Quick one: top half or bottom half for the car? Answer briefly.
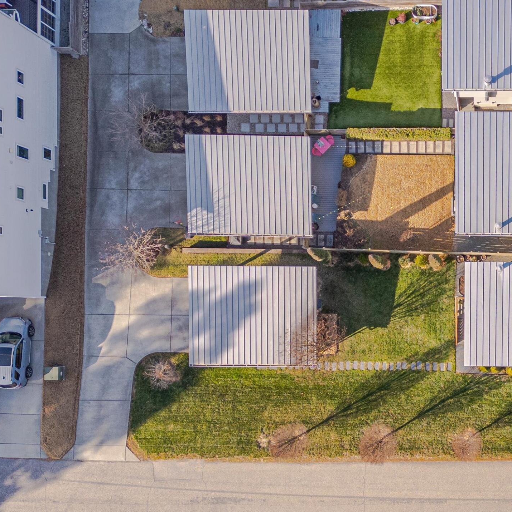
bottom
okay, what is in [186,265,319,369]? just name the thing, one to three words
building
